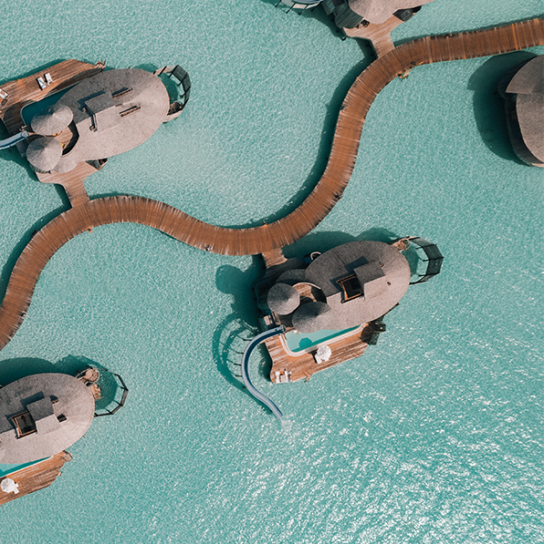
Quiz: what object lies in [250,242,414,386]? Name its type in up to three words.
house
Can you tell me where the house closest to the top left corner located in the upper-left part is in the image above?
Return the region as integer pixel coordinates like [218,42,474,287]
[0,61,178,213]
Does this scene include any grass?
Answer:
No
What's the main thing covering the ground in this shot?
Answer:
water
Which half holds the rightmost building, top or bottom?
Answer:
top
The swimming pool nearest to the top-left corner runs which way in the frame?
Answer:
at an angle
